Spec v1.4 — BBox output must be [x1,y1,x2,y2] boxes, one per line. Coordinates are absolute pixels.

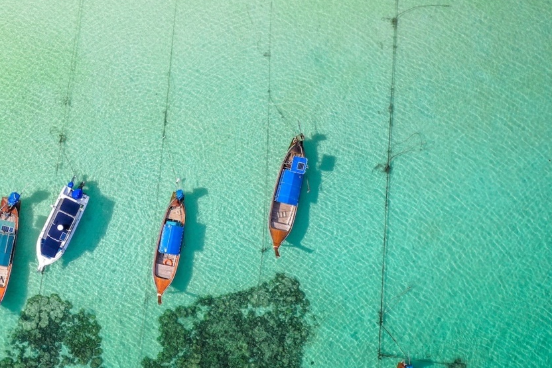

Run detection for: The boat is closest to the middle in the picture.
[268,121,307,258]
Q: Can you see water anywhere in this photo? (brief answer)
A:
Yes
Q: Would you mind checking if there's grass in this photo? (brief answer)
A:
No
